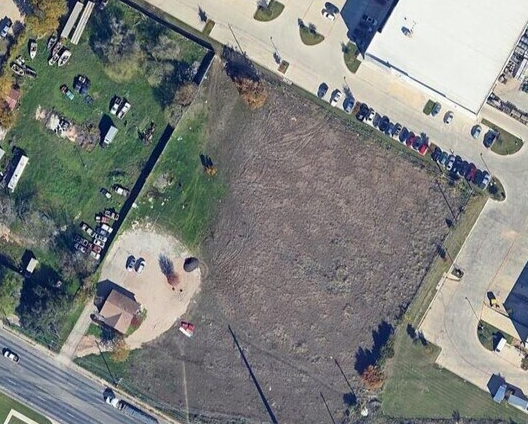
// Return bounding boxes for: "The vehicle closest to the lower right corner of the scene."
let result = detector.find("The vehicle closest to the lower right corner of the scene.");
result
[507,395,528,412]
